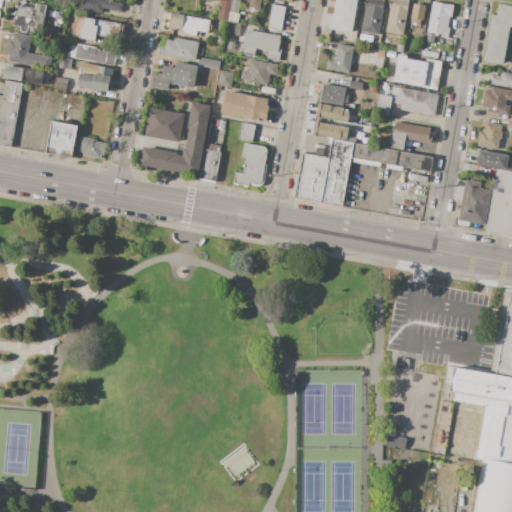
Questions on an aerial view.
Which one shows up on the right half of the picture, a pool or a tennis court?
tennis court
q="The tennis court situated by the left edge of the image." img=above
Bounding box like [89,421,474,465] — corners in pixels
[0,407,42,488]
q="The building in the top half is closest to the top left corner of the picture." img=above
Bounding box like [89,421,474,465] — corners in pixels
[14,3,48,34]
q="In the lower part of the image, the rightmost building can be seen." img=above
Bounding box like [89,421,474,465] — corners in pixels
[452,367,512,512]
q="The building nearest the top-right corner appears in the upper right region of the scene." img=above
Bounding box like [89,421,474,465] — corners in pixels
[483,4,512,65]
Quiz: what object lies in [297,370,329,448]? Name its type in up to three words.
tennis court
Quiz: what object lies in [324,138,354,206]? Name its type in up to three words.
building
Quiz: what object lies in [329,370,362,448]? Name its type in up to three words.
tennis court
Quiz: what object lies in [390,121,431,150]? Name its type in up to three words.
house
